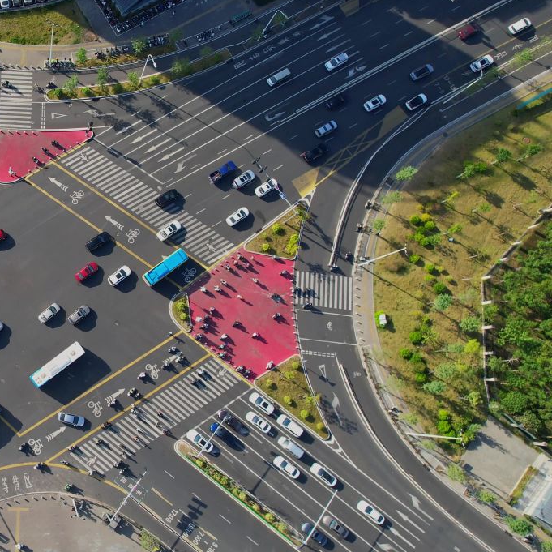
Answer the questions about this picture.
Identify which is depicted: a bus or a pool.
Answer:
bus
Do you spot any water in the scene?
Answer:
No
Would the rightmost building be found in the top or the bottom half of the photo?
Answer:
bottom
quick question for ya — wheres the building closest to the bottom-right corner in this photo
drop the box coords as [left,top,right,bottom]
[518,478,552,544]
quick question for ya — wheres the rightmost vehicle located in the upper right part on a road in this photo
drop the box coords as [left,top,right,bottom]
[508,19,530,34]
